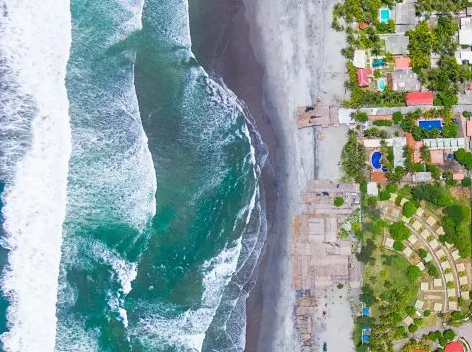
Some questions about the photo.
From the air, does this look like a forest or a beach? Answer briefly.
beach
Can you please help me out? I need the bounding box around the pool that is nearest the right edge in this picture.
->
[418,119,443,131]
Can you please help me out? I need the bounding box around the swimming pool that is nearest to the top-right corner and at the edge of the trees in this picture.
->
[380,7,392,24]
